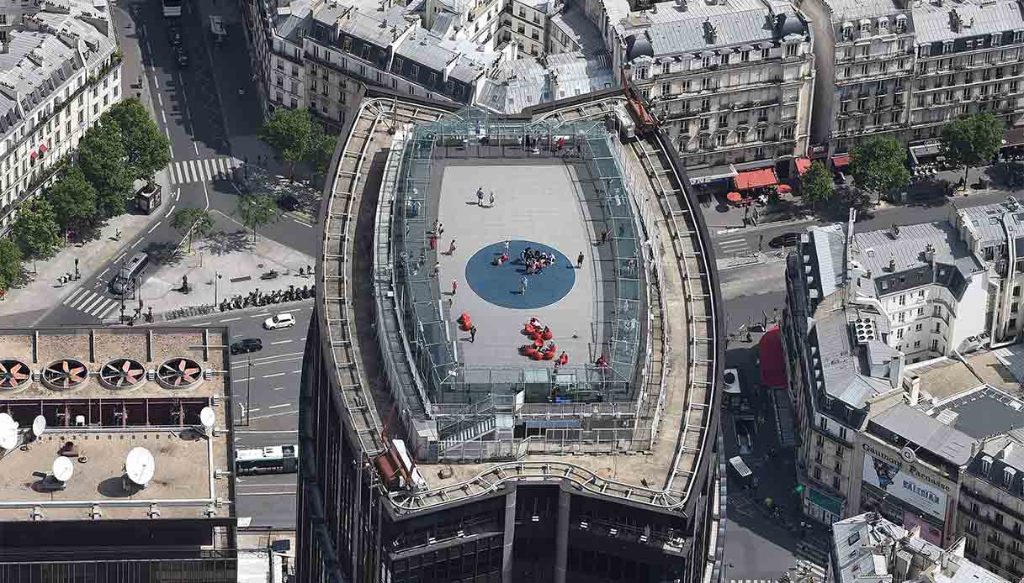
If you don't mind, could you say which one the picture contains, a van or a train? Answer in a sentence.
I can see a van in this picture.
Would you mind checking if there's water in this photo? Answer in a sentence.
No, there's no water in this view.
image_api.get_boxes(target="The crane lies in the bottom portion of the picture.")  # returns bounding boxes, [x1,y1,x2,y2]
[373,407,427,502]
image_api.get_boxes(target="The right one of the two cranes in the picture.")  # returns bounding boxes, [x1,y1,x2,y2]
[617,67,661,150]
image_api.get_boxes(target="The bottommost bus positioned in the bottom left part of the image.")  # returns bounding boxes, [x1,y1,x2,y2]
[234,448,297,481]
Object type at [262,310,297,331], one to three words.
car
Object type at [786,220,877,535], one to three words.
building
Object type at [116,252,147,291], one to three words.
van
